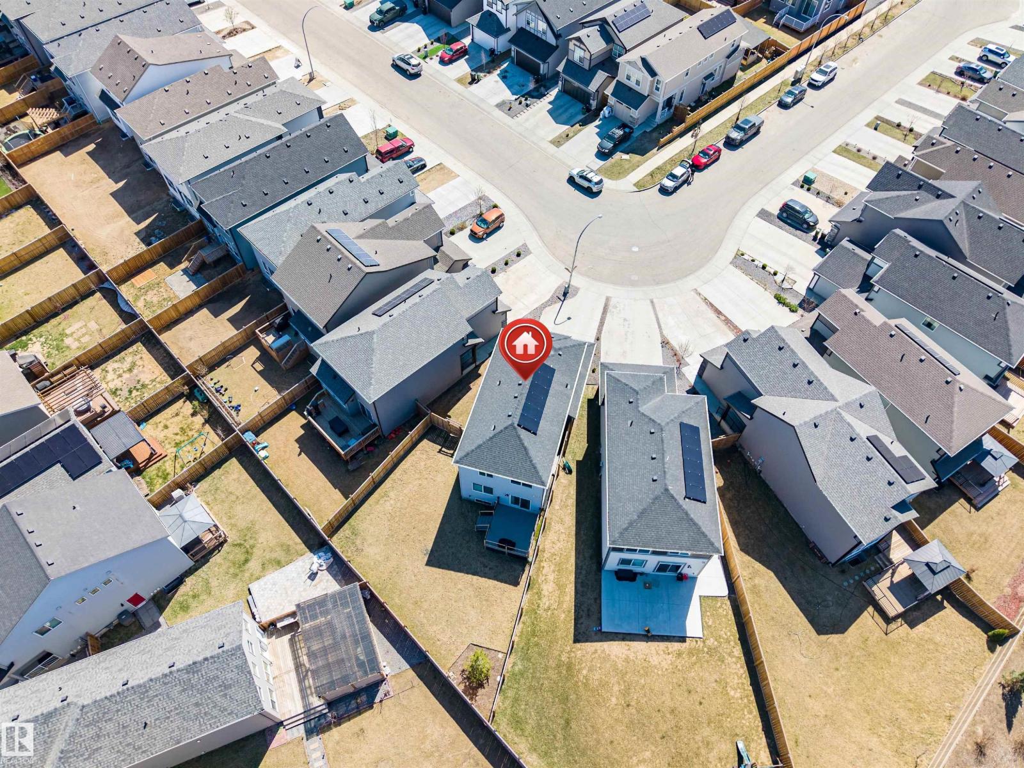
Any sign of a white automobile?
Yes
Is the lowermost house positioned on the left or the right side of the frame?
left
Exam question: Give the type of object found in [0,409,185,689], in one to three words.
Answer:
house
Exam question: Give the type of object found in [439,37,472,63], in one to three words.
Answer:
car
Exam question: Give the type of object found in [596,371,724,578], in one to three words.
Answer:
house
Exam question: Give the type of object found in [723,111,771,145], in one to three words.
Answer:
truck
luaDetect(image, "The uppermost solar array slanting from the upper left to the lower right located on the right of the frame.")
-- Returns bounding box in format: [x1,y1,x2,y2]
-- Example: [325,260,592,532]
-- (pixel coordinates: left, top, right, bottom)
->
[895,324,960,375]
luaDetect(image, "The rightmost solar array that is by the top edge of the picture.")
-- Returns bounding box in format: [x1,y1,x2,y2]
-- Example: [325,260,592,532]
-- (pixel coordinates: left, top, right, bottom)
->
[698,9,735,38]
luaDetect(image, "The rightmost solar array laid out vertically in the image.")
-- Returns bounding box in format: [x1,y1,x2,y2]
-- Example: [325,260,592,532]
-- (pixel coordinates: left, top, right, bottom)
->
[679,423,706,503]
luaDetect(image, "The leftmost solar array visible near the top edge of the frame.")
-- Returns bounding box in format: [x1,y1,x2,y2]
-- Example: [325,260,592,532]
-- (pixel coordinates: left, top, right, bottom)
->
[612,3,651,32]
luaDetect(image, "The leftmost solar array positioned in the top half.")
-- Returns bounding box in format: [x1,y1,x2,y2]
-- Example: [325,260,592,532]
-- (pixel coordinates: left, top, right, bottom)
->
[326,229,379,266]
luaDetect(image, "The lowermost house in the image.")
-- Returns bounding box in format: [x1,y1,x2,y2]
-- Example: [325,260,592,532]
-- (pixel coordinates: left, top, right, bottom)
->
[0,601,276,768]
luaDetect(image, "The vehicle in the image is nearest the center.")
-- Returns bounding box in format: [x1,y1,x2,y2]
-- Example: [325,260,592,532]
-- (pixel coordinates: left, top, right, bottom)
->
[467,207,510,240]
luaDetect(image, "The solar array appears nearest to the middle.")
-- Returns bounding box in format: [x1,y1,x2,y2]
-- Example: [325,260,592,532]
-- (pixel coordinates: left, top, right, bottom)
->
[517,363,556,435]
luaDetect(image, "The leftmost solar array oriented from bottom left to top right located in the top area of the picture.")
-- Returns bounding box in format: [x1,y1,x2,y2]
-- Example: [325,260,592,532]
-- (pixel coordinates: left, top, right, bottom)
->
[373,278,433,317]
